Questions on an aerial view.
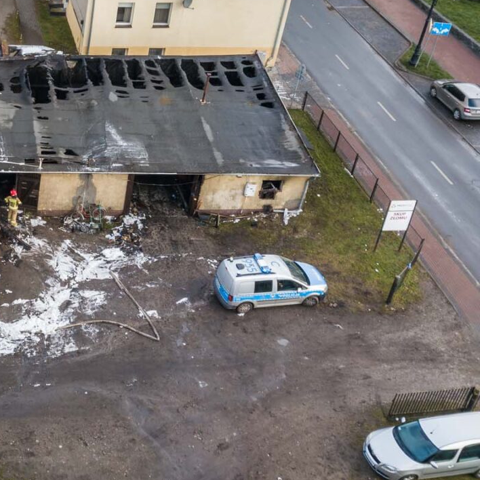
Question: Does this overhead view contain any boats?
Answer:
No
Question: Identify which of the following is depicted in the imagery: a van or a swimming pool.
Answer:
van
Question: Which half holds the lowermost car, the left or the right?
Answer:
right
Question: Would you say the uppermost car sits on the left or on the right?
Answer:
right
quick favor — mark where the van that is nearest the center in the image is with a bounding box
[212,250,331,310]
